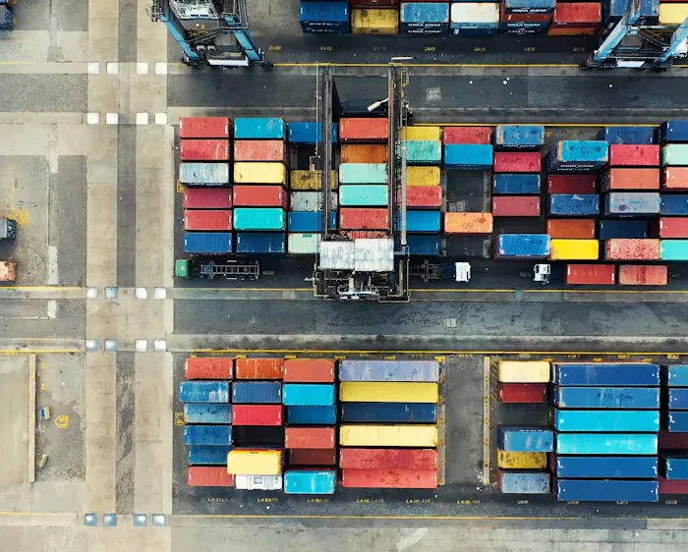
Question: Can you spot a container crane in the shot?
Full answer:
Yes, the image includes a container crane.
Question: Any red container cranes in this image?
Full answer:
No, the picture doesn't show any red container crane.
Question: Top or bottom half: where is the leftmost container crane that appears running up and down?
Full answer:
You can find the leftmost container crane that appears running up and down in the top half.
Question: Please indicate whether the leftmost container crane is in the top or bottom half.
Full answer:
You can find the leftmost container crane in the top half.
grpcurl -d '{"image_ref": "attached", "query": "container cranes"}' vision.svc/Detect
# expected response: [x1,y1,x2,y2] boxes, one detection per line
[301,58,424,311]
[579,0,688,74]
[152,0,283,71]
